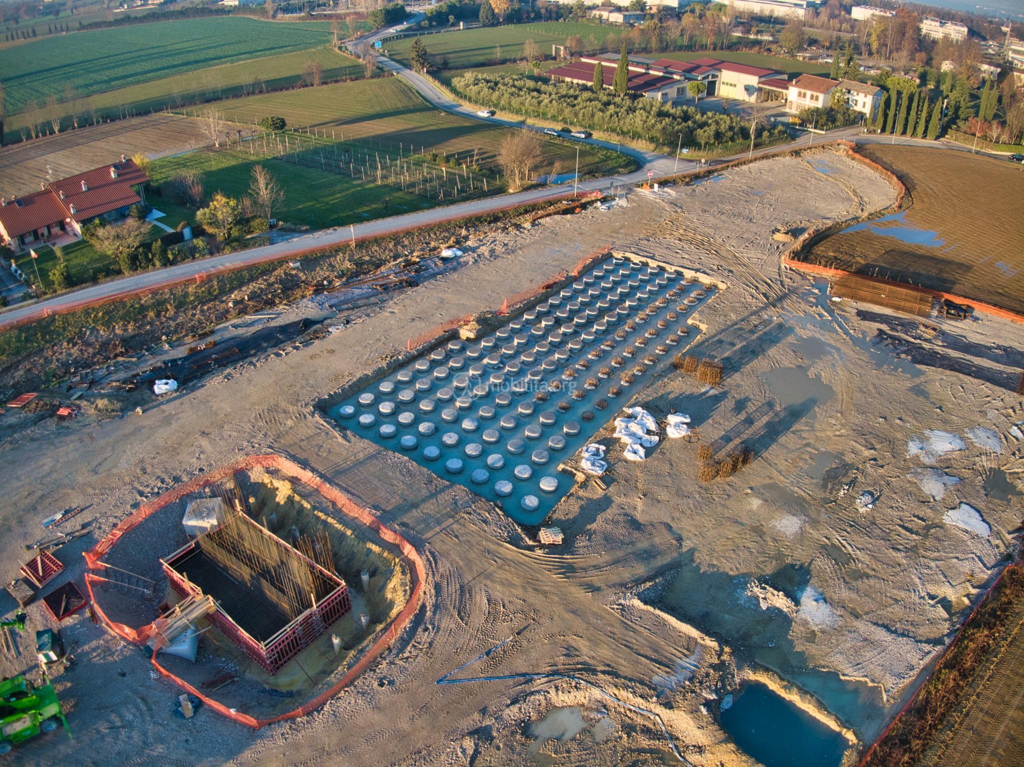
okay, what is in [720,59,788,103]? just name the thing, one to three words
building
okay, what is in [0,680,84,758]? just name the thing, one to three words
work vehicle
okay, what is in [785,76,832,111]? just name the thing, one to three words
house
